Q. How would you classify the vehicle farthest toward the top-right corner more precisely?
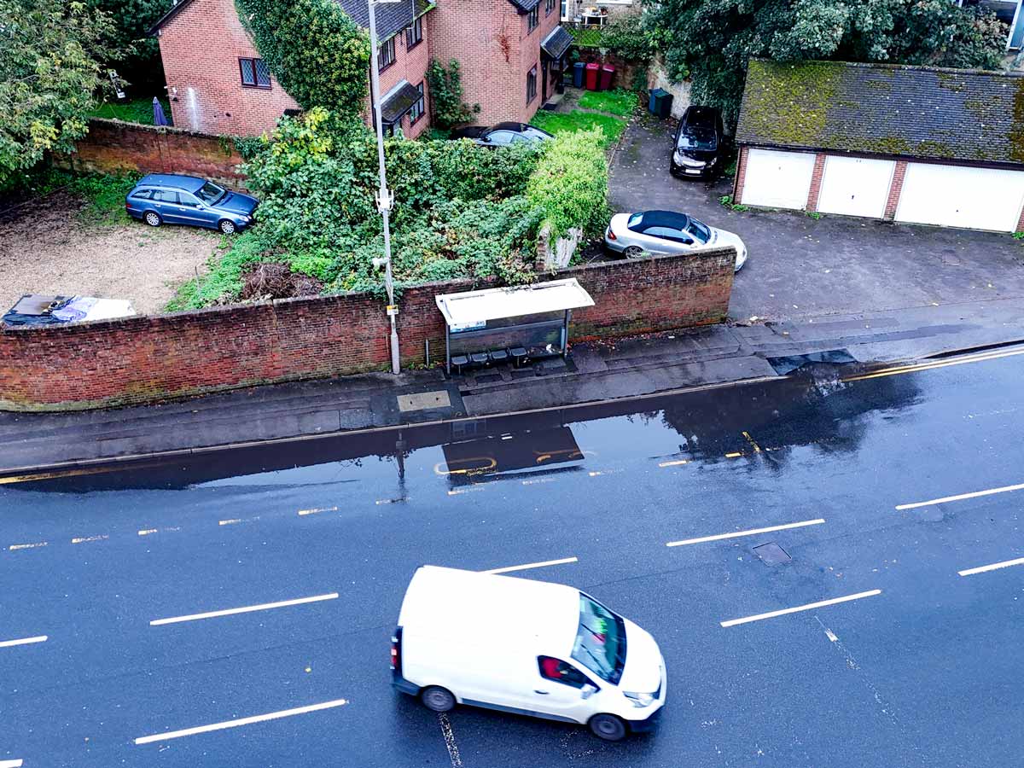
car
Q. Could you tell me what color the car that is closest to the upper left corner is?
blue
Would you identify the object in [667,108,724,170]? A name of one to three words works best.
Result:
car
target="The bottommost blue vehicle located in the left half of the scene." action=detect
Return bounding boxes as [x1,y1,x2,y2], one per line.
[119,173,253,235]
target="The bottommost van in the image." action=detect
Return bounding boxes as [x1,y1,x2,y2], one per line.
[389,570,670,745]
